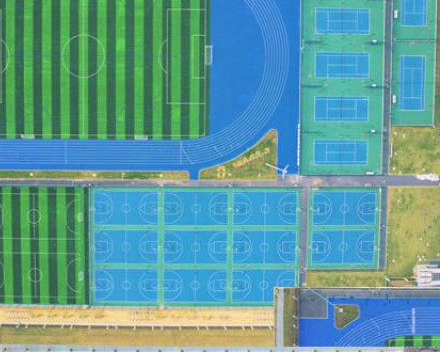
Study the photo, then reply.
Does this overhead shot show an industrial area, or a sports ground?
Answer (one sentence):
The picture captures a sports ground.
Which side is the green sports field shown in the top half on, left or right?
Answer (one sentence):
The green sports field shown in the top half sits on the left side.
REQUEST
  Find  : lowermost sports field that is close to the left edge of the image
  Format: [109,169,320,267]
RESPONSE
[0,244,86,306]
